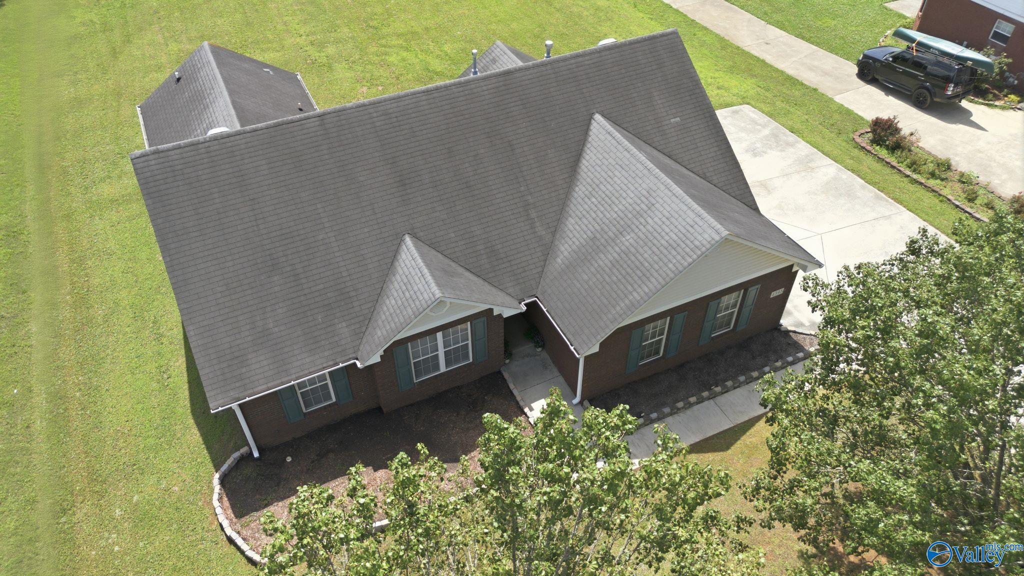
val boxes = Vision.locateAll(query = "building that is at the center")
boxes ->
[132,30,823,461]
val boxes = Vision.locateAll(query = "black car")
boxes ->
[858,43,981,109]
